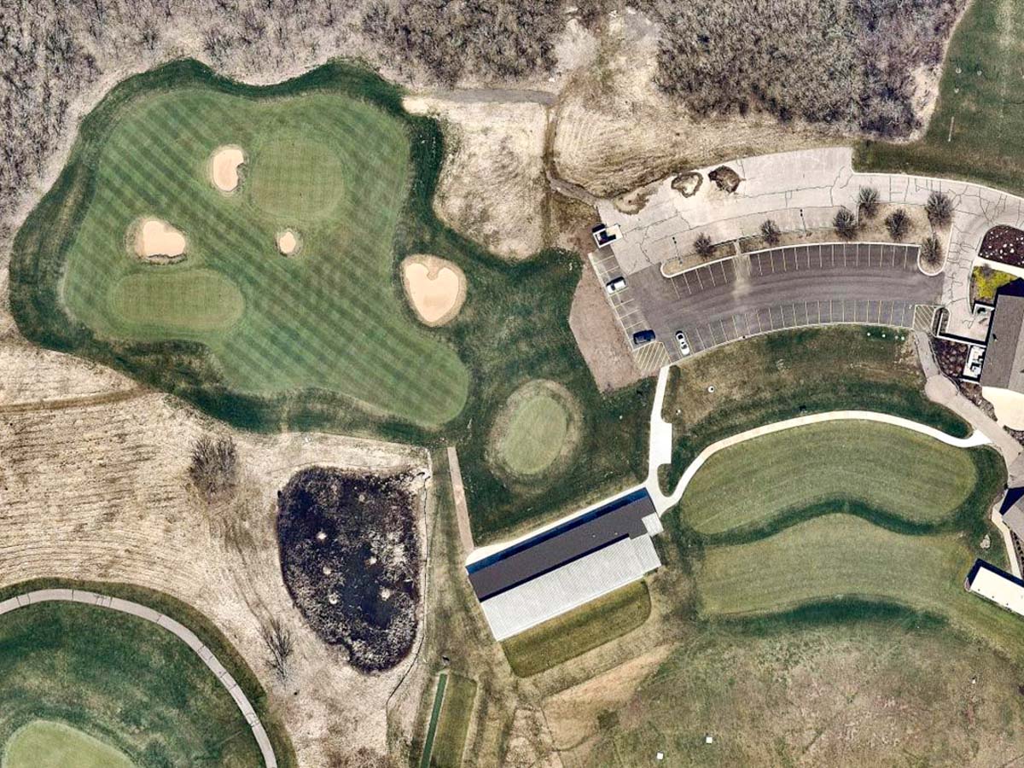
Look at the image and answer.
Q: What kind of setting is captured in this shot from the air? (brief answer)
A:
golf course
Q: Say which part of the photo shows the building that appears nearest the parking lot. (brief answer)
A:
right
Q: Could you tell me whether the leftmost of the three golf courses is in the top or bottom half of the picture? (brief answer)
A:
bottom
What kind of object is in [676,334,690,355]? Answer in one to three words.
car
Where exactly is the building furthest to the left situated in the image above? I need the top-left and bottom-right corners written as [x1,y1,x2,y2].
[469,495,664,641]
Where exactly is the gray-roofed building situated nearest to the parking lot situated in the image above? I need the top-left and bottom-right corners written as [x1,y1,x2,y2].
[980,294,1024,391]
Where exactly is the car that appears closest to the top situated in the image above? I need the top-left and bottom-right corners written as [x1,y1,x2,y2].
[607,279,627,293]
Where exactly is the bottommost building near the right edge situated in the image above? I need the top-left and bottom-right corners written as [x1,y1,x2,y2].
[970,567,1024,615]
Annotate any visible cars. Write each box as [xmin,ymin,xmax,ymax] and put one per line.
[634,331,656,345]
[676,334,690,355]
[607,279,627,293]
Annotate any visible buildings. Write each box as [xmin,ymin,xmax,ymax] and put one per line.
[469,495,664,641]
[980,294,1024,391]
[1002,496,1024,540]
[970,567,1024,615]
